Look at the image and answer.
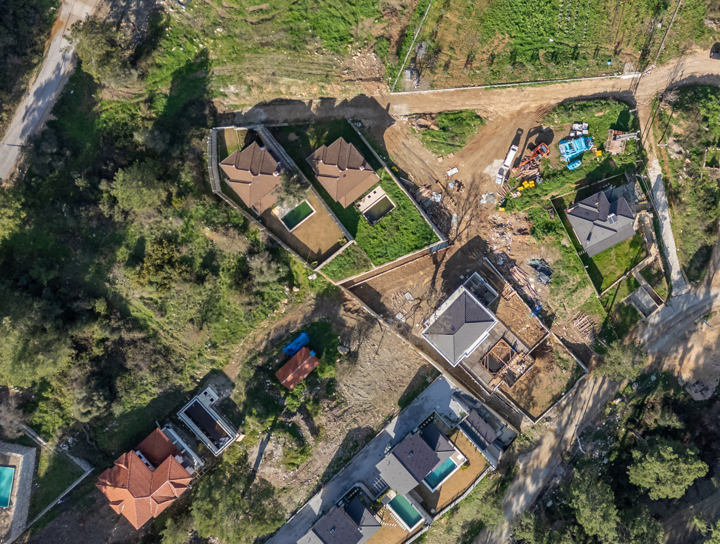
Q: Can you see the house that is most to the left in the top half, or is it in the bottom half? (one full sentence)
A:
You can find the house that is most to the left in the bottom half.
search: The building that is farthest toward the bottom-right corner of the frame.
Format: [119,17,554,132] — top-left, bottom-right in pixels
[450,389,516,467]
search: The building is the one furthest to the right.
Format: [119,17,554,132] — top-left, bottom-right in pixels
[567,187,636,257]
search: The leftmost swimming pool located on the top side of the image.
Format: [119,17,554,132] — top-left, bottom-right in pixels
[273,199,316,232]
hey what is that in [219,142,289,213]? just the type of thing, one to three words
house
